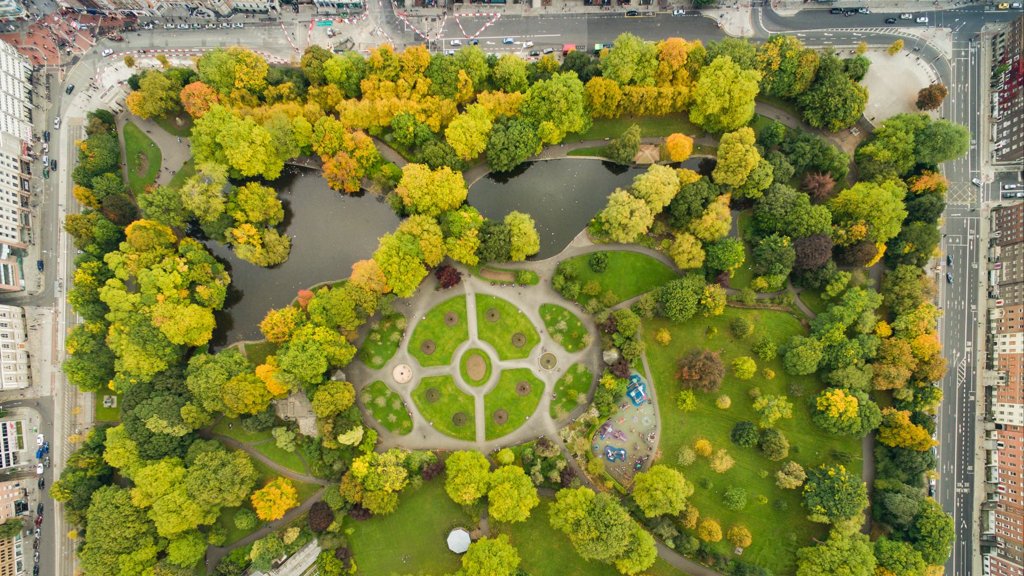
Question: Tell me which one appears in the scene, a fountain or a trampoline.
fountain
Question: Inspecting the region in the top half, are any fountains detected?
No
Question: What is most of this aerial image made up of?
trees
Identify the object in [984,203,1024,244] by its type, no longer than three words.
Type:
house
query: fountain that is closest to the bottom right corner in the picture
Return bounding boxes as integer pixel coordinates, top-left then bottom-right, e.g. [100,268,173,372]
[539,352,558,371]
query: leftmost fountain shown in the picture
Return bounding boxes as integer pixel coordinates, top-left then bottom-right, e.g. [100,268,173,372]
[392,364,412,383]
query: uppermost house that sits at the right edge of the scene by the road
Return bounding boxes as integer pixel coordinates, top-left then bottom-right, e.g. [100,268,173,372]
[992,14,1024,64]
